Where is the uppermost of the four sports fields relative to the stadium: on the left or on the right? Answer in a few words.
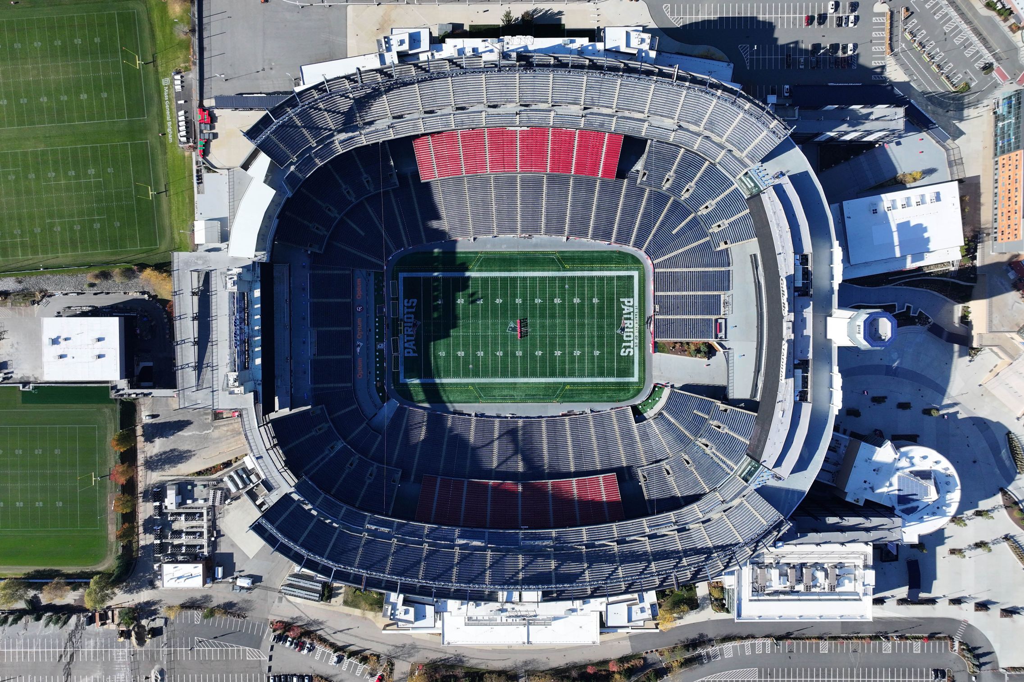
to the left of it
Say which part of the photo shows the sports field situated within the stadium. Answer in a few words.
center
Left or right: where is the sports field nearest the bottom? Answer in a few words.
left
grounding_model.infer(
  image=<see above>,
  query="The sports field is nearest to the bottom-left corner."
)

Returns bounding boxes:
[0,409,98,530]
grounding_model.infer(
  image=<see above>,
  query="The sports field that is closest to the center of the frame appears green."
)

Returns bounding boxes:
[384,235,655,421]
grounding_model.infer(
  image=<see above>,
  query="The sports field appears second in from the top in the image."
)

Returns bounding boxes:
[0,141,159,259]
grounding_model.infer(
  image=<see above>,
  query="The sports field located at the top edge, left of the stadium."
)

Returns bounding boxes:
[0,10,146,129]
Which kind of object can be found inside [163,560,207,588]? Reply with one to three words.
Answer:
building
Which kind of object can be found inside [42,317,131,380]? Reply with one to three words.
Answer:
shed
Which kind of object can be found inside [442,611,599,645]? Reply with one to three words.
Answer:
building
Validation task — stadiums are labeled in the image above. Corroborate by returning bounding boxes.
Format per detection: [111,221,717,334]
[225,40,841,608]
